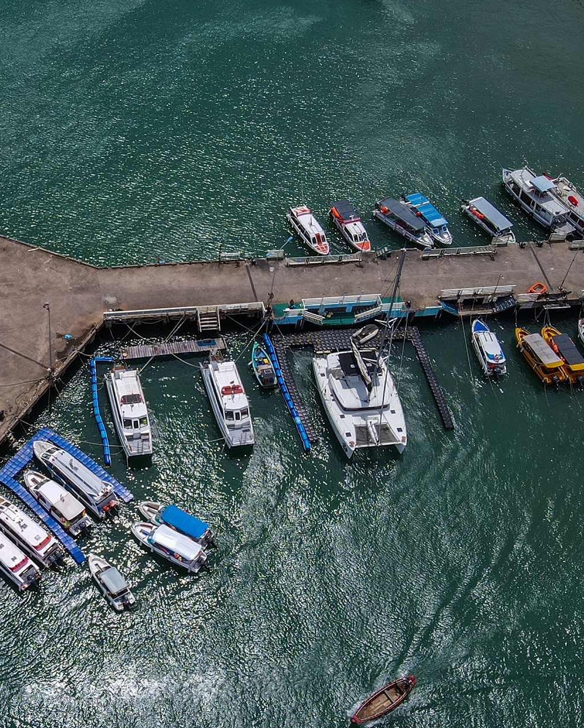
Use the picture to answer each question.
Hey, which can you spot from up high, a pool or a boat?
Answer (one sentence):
The one in the frame is a boat.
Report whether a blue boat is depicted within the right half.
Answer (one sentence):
Yes, a blue boat can be seen within the right half.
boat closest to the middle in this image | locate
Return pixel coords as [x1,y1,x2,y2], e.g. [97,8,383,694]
[252,337,276,389]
